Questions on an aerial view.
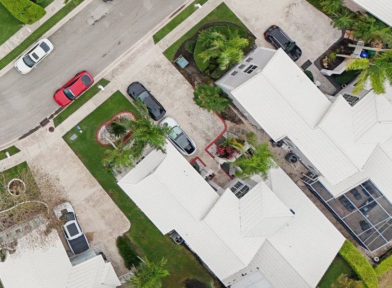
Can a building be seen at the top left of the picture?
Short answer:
No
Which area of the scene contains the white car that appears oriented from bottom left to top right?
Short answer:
top left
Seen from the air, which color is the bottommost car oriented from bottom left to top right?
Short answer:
red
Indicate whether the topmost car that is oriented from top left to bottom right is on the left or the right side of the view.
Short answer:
right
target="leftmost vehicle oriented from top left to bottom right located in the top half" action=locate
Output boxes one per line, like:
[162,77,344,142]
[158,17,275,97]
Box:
[127,80,167,121]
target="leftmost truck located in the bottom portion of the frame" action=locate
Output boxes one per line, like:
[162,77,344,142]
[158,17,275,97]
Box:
[56,201,90,257]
